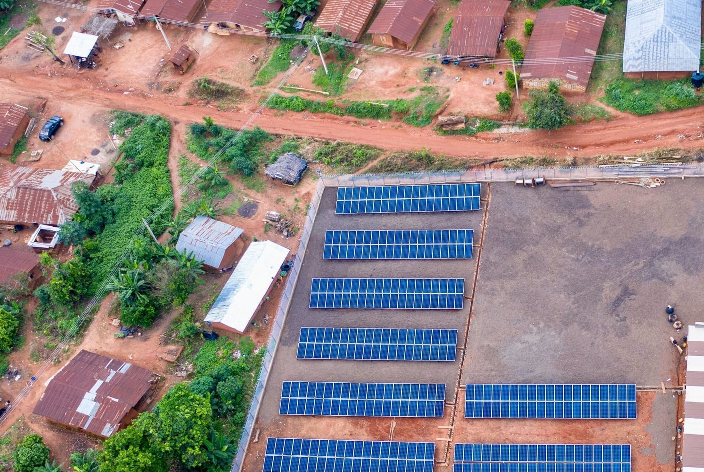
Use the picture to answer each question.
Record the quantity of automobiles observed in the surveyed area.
2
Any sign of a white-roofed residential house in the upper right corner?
Yes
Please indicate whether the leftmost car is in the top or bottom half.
top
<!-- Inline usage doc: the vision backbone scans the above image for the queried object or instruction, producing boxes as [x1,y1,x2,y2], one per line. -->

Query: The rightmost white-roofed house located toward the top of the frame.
[623,0,699,86]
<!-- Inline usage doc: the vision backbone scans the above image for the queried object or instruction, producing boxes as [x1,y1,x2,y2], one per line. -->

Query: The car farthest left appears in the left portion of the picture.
[38,116,61,140]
